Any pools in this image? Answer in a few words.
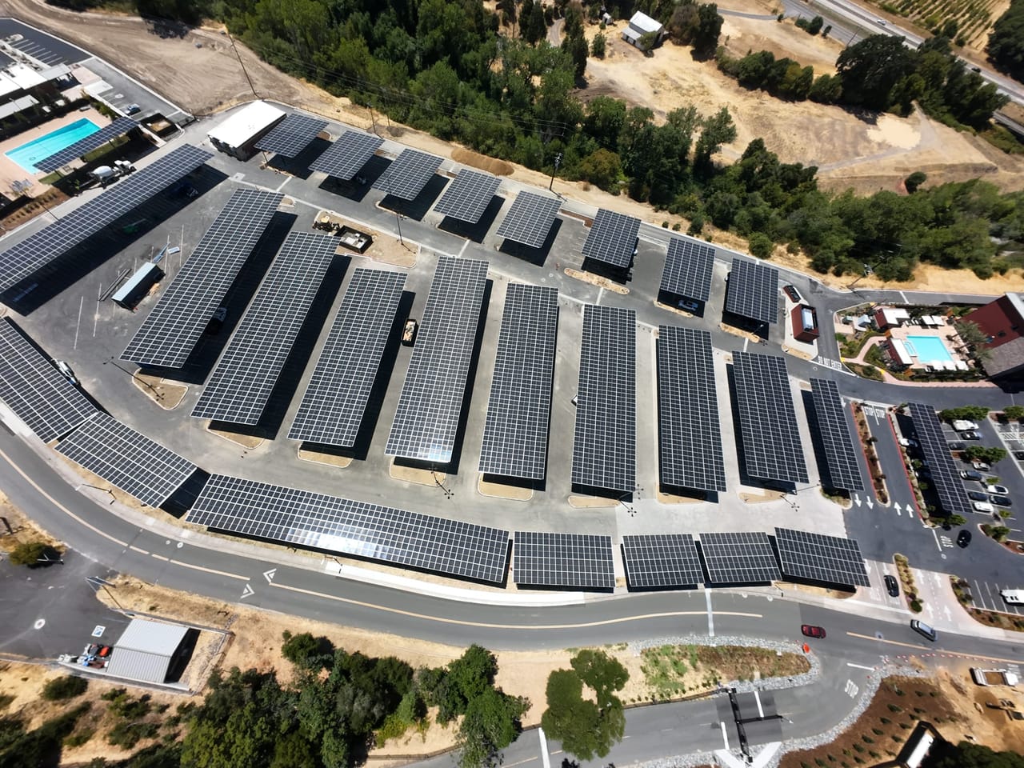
Yes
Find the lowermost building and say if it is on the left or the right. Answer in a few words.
right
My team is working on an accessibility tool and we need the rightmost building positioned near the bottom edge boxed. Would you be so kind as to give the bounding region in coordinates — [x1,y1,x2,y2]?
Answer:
[867,724,938,768]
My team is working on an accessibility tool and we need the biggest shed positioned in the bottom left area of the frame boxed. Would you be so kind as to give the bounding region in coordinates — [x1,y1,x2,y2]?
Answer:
[106,618,201,682]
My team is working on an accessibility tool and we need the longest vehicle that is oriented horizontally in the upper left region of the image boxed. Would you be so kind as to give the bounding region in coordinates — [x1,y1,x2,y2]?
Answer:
[80,158,136,182]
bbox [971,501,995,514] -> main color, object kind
white vehicle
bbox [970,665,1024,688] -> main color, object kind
white truck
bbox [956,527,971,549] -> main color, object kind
black car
